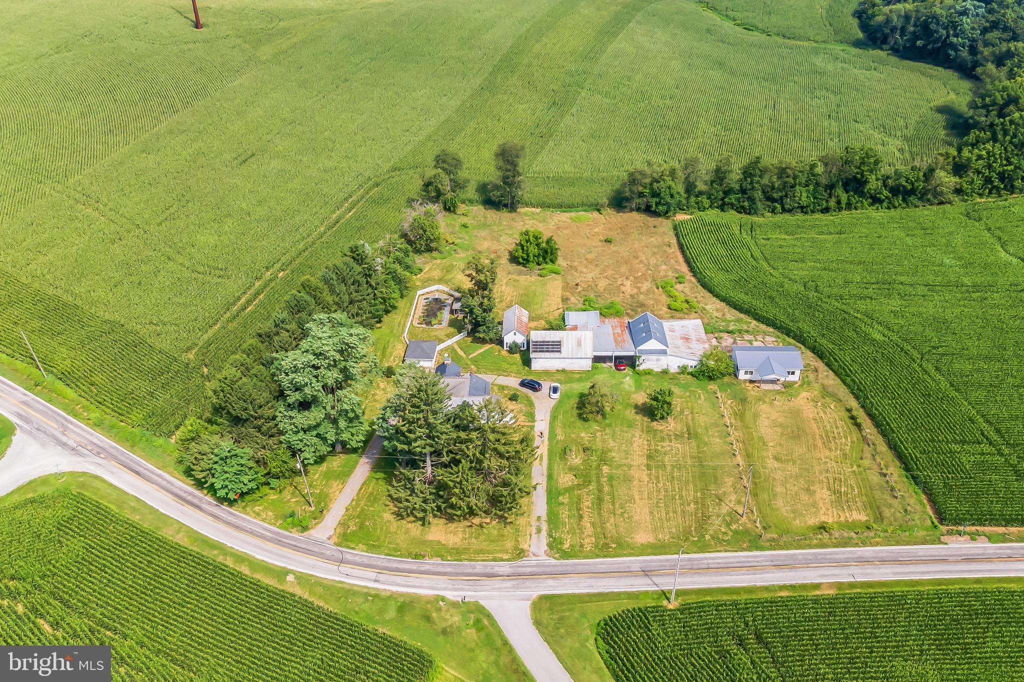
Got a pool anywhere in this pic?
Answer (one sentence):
Yes, there's a pool here.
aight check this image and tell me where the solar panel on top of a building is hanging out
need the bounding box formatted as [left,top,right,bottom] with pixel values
[532,339,561,353]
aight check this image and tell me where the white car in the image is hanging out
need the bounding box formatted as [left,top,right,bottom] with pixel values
[549,382,561,400]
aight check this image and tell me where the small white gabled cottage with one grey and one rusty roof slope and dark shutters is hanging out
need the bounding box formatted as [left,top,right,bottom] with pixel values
[502,303,528,350]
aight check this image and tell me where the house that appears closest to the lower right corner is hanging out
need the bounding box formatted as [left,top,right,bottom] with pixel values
[730,346,804,389]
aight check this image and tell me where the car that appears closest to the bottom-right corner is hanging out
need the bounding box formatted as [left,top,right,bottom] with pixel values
[615,355,627,369]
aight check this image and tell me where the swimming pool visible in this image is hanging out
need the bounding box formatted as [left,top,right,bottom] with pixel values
[413,292,452,328]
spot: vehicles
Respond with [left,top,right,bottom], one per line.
[615,355,627,369]
[549,382,561,400]
[518,379,544,393]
